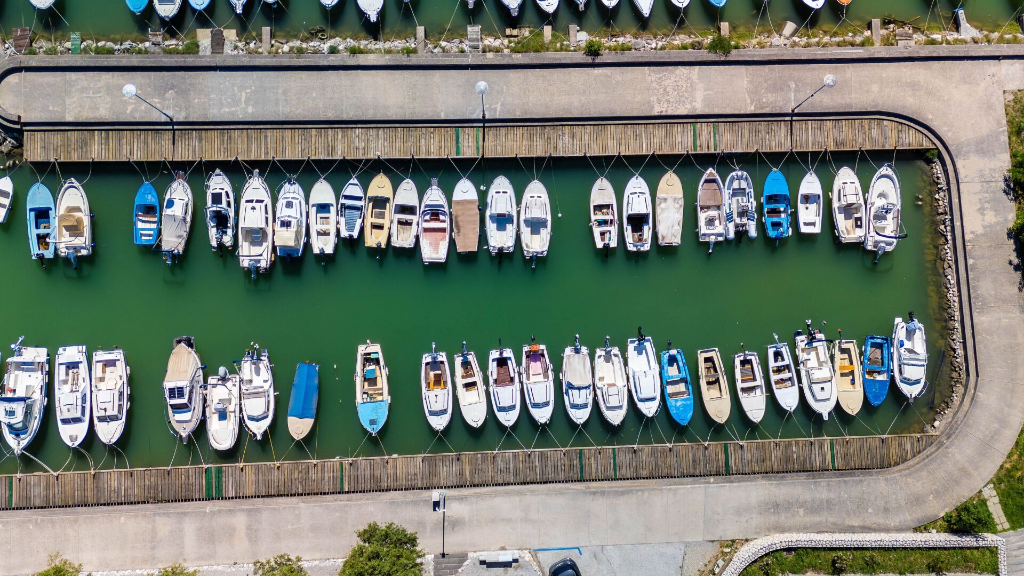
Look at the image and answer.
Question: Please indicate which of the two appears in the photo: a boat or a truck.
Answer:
boat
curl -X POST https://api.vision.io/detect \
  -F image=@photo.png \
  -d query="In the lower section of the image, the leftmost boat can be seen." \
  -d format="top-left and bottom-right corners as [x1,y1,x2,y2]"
[0,334,56,456]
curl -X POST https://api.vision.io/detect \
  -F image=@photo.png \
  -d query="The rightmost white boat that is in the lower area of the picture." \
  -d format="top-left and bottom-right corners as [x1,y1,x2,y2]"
[889,311,931,403]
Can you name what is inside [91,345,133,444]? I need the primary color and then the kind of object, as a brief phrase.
white boat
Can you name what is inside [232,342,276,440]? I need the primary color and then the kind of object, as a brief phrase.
white boat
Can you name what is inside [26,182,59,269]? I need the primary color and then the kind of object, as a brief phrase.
blue boat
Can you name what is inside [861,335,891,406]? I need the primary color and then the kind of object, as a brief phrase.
blue boat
